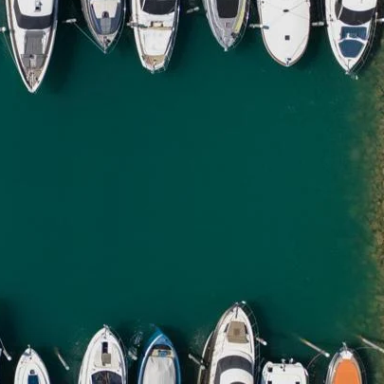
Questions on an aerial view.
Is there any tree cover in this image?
No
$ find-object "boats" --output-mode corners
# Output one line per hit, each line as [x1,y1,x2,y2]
[78,322,128,384]
[260,359,309,384]
[206,301,262,384]
[197,334,213,384]
[320,344,365,384]
[134,326,178,384]
[315,0,379,77]
[249,0,308,70]
[13,344,47,384]
[78,0,124,56]
[127,0,181,75]
[4,0,59,96]
[198,0,249,53]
